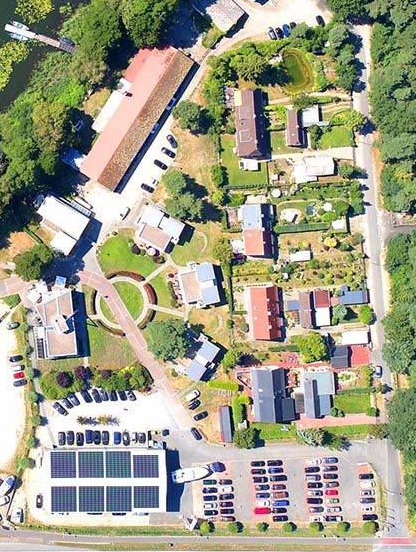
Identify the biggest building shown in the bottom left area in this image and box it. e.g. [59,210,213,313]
[46,442,167,513]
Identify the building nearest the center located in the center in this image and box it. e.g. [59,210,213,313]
[180,261,220,305]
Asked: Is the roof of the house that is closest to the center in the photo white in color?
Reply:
Yes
